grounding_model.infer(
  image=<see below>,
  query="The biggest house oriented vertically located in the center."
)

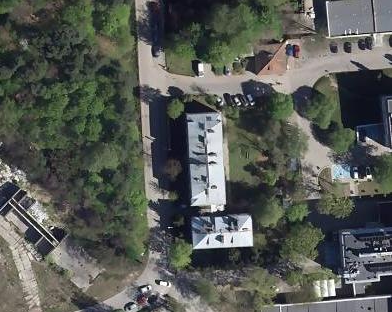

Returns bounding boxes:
[186,112,226,211]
